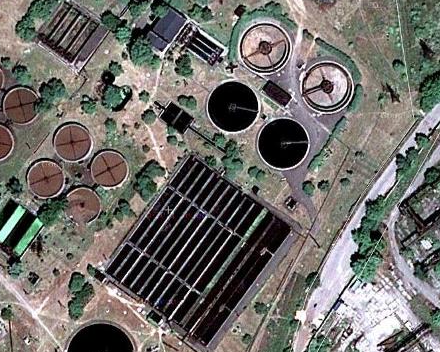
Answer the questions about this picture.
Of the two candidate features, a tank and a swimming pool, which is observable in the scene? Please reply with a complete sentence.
It is a tank that can be seen here.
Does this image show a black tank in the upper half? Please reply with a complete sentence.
Yes, a black tank is visible in the upper half.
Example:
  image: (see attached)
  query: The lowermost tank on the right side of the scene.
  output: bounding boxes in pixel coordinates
[257,117,312,170]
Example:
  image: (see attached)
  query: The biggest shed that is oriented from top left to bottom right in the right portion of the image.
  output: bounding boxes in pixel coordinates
[263,80,291,106]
